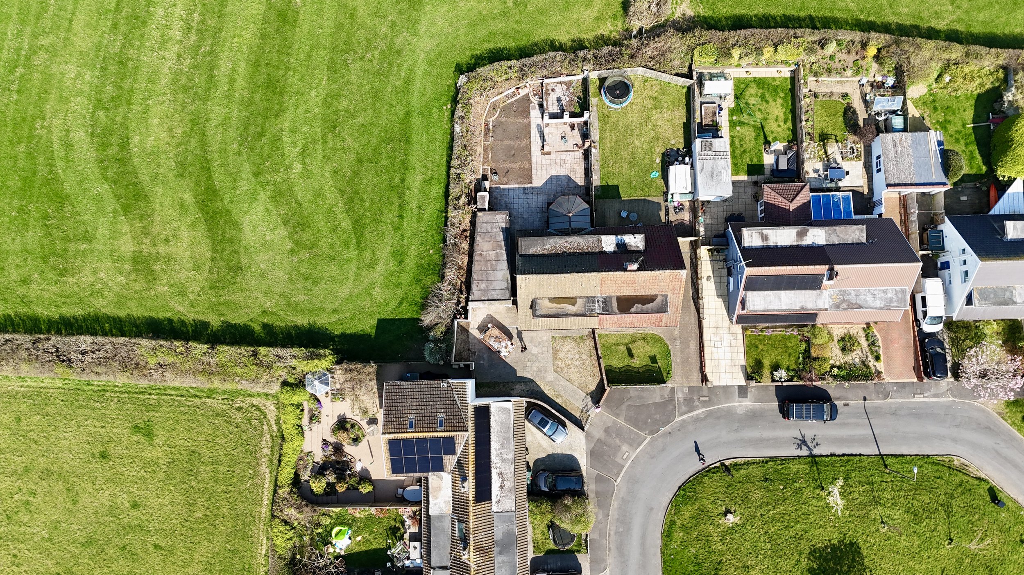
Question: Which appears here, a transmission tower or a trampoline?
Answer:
trampoline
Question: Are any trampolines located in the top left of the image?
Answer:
No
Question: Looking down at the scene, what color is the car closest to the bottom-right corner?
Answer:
black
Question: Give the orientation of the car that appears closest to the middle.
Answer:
at an angle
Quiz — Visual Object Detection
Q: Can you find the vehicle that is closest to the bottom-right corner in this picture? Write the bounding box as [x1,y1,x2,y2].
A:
[923,337,949,381]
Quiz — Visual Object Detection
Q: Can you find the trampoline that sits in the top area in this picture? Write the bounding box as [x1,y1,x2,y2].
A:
[602,73,635,110]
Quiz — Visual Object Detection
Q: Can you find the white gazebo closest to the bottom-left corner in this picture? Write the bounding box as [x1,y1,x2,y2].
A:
[306,370,333,396]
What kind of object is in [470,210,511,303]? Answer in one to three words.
building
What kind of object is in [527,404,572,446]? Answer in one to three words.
car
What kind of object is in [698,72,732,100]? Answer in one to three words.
greenhouse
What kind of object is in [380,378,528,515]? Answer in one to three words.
house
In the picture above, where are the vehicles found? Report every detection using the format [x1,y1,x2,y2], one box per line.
[534,469,586,496]
[527,404,572,446]
[919,277,948,332]
[923,337,949,381]
[780,399,836,425]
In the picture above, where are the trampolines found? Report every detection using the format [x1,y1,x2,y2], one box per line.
[550,524,578,552]
[602,73,635,110]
